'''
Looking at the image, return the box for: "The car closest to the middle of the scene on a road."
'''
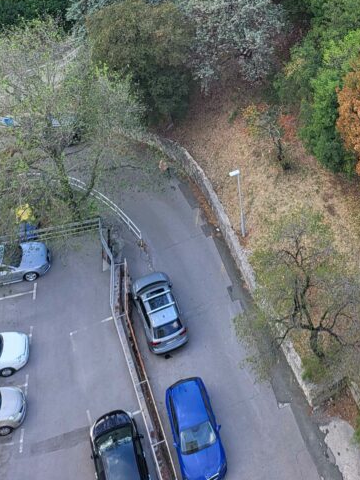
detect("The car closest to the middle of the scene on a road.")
[128,263,189,358]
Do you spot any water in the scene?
No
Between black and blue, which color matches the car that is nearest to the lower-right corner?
blue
